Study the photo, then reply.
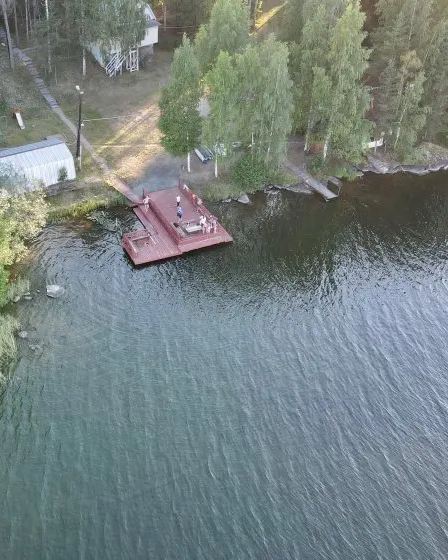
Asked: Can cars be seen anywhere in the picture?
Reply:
No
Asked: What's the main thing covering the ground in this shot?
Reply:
water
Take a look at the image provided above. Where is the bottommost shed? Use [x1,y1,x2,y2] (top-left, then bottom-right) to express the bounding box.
[0,136,77,187]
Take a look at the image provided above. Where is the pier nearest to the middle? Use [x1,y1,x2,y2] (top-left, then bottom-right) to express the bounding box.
[123,173,233,268]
